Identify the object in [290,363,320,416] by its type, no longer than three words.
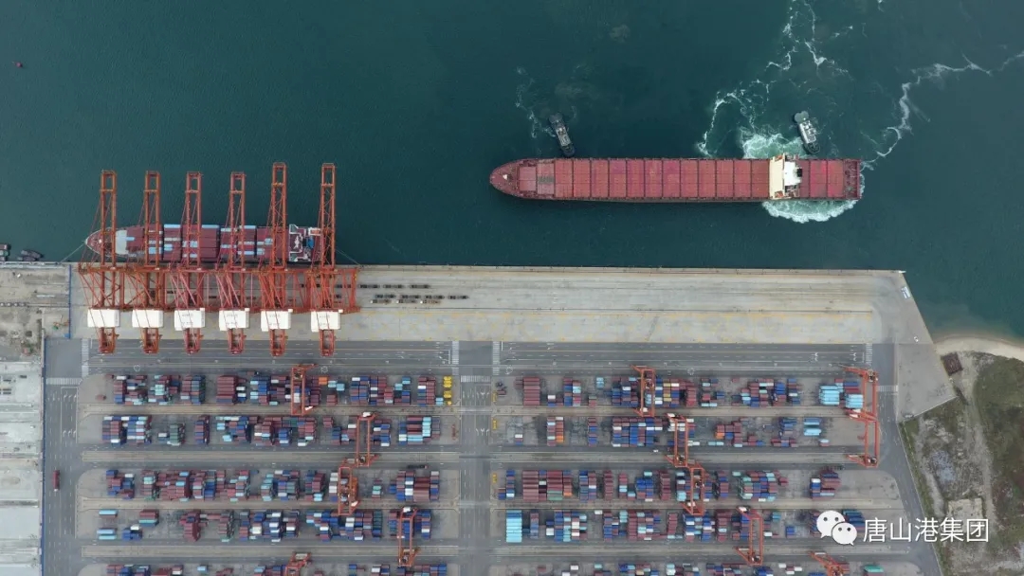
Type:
crane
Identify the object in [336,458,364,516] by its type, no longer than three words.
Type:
crane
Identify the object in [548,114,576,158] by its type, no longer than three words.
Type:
boat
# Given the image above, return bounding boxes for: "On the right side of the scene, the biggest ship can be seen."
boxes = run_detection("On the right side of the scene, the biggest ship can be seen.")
[490,150,861,203]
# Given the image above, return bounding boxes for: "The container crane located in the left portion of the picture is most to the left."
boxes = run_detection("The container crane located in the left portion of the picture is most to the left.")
[71,169,154,356]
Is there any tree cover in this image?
No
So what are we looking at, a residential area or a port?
port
